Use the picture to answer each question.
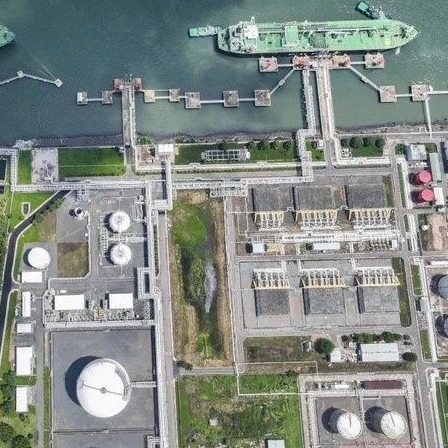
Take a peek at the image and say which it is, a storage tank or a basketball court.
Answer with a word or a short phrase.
storage tank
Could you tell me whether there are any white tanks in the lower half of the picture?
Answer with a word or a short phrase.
Yes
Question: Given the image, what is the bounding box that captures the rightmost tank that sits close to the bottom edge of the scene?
[370,409,407,440]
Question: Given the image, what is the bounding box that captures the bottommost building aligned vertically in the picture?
[16,386,28,412]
